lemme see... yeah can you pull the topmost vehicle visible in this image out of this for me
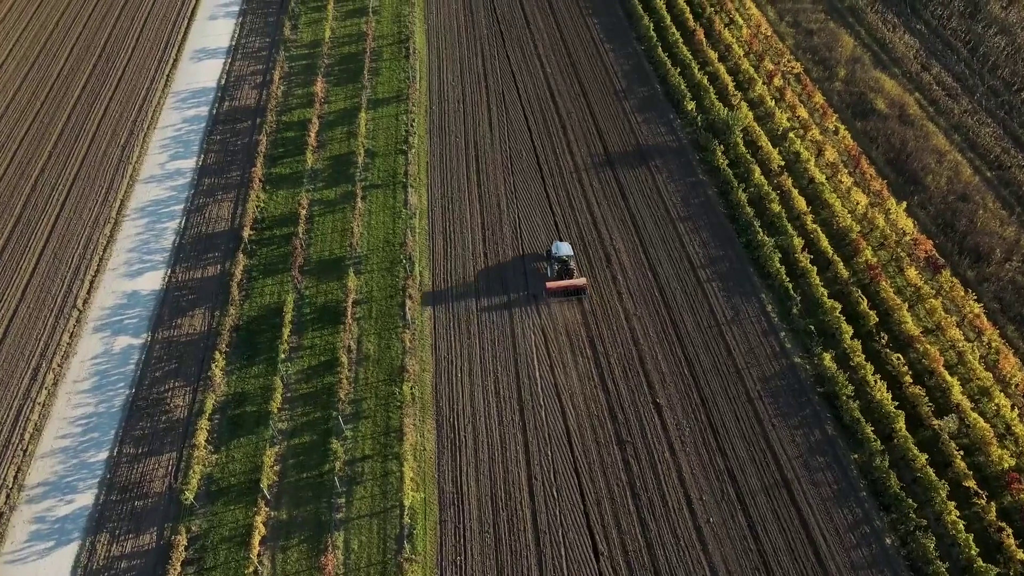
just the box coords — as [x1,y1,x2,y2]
[544,240,578,283]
